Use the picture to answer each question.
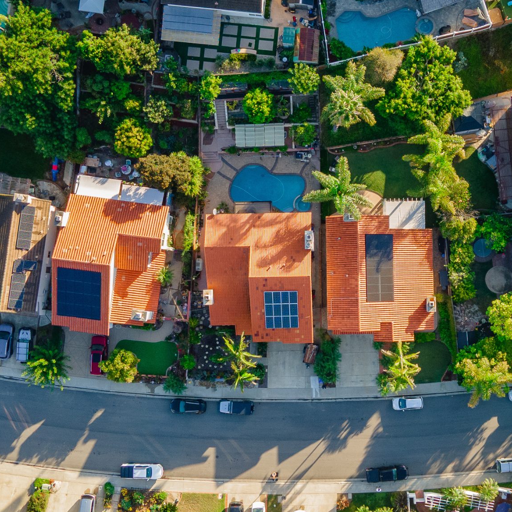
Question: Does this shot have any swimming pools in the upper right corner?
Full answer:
Yes, a swimming pool is visible in the upper right corner.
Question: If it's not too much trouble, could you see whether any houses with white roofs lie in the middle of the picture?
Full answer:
No, in the middle of the picture there is no house with a white roof.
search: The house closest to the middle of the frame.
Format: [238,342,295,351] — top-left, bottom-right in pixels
[204,208,318,344]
